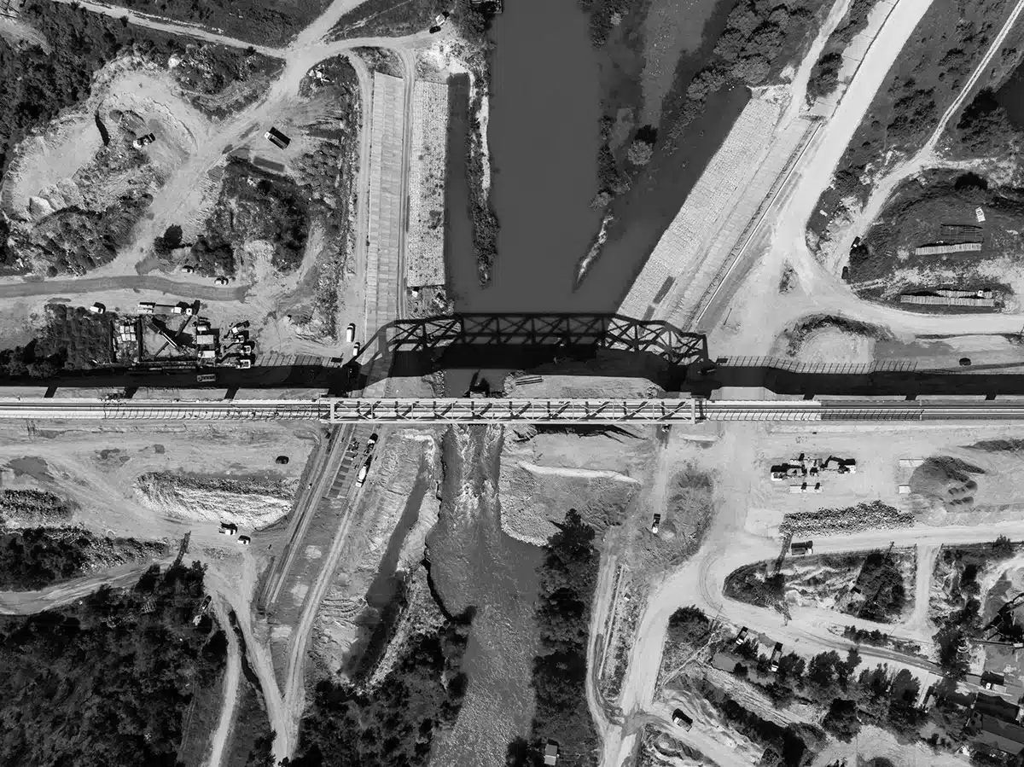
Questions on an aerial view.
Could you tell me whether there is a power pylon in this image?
Yes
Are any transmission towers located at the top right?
No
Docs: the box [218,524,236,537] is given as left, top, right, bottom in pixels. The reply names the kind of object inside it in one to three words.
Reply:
vehicle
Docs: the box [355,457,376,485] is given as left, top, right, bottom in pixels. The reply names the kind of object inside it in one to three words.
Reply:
truck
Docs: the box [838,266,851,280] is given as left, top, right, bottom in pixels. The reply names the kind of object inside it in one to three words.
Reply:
vehicle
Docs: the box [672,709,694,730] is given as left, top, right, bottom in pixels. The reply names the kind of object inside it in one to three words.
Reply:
truck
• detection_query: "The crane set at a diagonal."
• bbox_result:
[138,318,192,361]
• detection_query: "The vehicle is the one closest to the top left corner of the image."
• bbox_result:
[132,133,158,151]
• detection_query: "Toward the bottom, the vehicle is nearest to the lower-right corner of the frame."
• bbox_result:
[982,677,1005,694]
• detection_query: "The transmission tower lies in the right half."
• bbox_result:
[762,587,803,620]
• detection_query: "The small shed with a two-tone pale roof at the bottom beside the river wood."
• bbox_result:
[542,737,559,762]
